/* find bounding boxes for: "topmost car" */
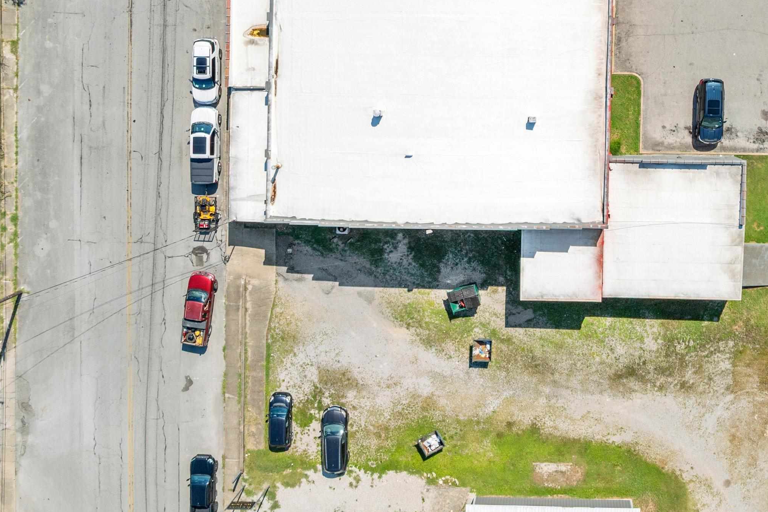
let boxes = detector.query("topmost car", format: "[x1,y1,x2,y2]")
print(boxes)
[188,39,224,105]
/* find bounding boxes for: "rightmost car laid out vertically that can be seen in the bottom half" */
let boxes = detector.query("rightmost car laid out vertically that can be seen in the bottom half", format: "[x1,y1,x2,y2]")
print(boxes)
[317,404,350,476]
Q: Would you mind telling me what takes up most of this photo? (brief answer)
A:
paved ground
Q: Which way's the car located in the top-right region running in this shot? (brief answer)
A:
vertically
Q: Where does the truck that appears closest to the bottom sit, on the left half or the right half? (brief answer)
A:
left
